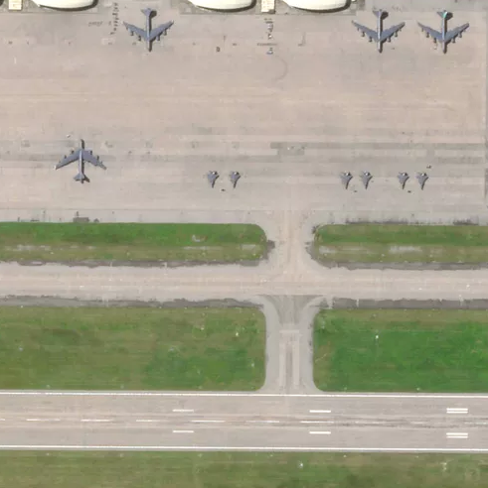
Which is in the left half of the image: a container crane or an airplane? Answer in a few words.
airplane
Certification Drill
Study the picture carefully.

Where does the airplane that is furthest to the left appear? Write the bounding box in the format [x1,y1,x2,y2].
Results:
[56,140,107,183]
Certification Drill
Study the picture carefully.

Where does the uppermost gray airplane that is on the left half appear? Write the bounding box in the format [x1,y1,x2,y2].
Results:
[123,7,175,51]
